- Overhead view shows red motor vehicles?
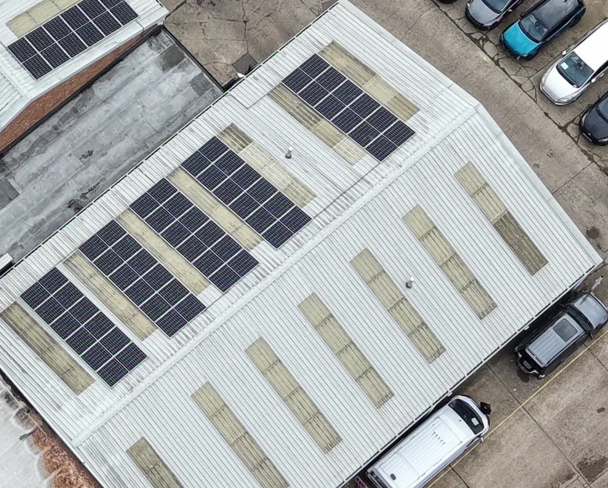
No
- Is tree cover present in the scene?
No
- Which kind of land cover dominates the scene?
buildings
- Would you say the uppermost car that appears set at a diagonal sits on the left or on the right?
right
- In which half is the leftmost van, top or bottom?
bottom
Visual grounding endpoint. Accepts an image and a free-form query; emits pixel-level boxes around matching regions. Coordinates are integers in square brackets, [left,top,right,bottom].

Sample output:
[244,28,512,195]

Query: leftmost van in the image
[373,396,494,488]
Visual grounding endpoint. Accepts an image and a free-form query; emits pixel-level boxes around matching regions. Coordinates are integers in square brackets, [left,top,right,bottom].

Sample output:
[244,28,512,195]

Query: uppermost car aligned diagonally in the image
[511,0,586,59]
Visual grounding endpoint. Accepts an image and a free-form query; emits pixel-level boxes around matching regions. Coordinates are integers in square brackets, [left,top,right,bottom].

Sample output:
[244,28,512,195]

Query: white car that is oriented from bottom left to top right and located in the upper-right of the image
[542,29,608,104]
